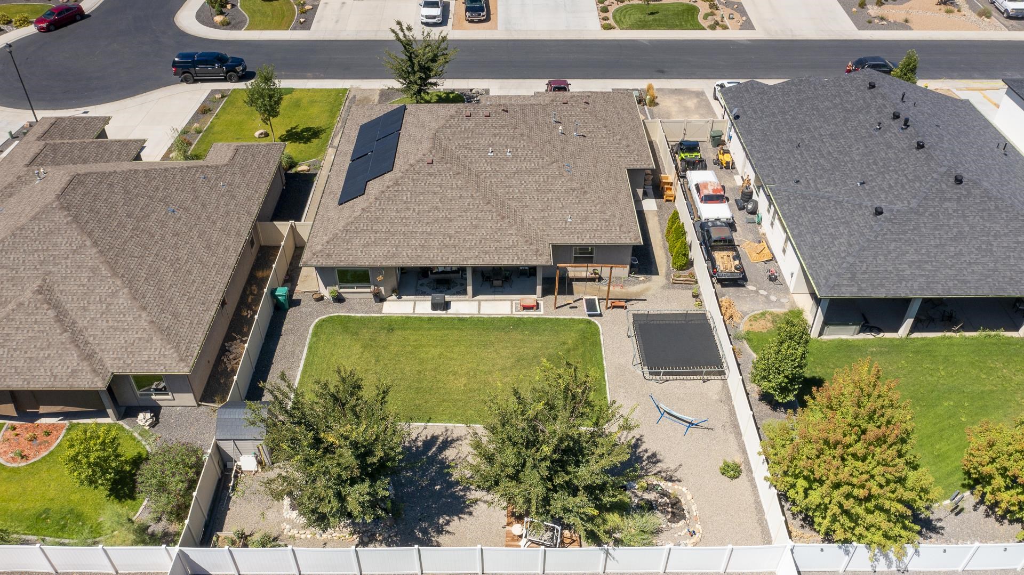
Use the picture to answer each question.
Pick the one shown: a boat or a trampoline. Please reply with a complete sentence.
Looking from above, you can make out a trampoline.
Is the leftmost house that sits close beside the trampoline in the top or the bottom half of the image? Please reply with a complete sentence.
Seen from above, the leftmost house that sits close beside the trampoline lies in the top half of the view.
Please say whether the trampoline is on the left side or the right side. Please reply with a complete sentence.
The trampoline appears in the right half of the scene.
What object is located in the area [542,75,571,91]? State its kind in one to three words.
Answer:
vehicle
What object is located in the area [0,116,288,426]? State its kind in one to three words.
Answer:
house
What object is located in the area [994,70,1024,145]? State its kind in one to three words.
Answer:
house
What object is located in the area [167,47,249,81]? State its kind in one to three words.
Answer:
truck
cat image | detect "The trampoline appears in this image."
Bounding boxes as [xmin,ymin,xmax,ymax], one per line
[627,310,724,385]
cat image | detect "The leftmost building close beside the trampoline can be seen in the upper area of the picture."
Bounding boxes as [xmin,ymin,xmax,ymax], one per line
[298,88,657,299]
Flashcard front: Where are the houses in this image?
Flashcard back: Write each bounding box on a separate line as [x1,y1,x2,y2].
[724,63,1024,336]
[994,70,1024,145]
[298,88,657,299]
[0,116,288,426]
